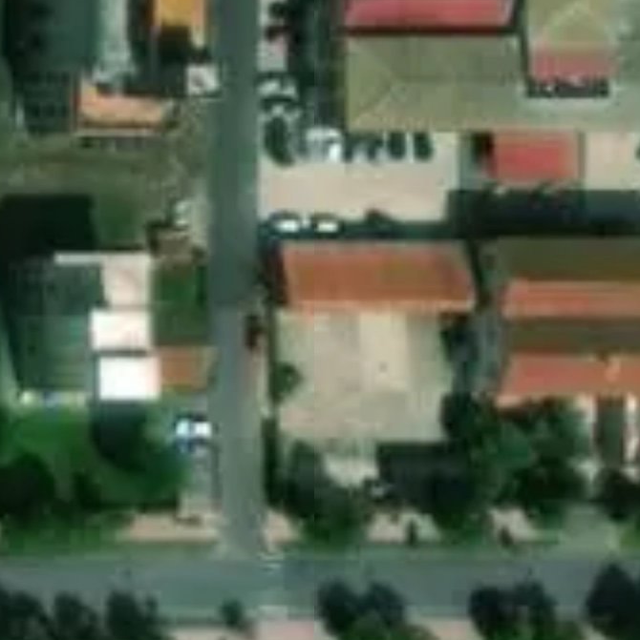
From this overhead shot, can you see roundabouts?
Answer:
No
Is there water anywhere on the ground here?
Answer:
No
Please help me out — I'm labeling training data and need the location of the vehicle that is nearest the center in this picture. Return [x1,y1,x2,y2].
[245,315,265,350]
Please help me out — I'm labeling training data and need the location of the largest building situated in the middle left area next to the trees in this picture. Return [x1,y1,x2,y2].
[21,252,163,399]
